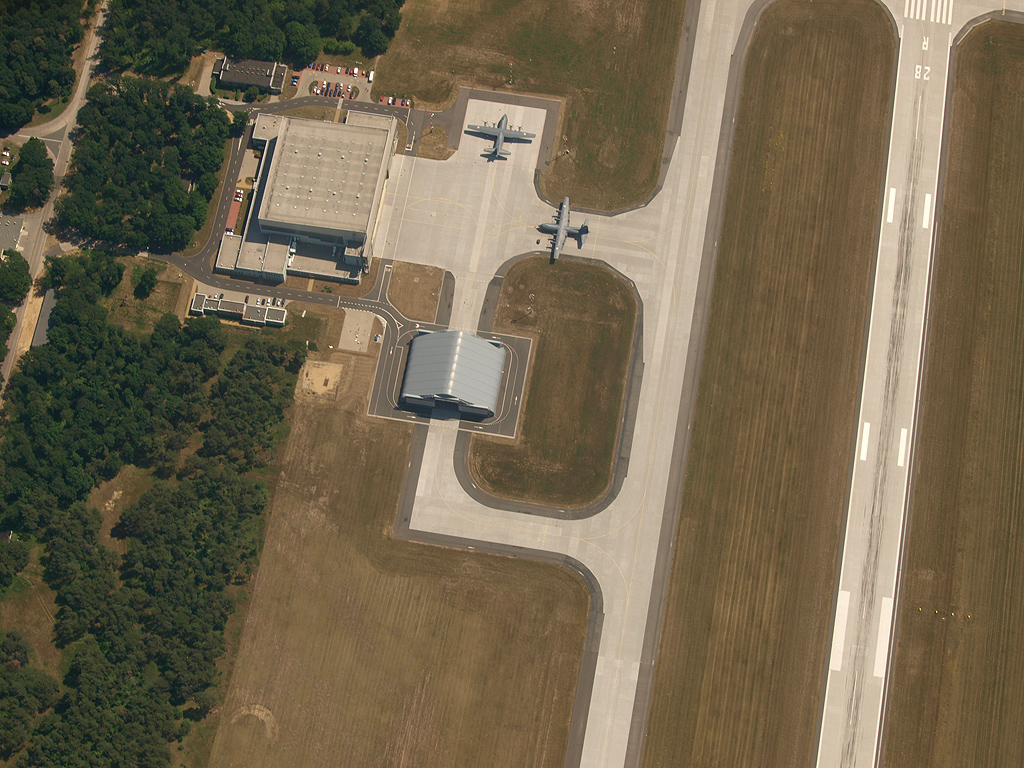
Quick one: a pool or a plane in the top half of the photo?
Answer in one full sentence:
The one visible in the top half of the photo is a plane.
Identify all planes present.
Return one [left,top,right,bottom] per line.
[540,196,592,259]
[467,115,537,157]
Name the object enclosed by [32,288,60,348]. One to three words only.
shed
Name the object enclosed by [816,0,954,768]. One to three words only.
runway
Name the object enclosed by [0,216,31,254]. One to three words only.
building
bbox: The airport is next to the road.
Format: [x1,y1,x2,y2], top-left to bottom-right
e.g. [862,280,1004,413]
[372,0,1024,768]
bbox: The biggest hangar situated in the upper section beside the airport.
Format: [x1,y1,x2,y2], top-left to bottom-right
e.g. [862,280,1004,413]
[216,110,398,284]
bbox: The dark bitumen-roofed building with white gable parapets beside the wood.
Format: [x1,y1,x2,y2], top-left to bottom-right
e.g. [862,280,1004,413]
[213,56,288,95]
